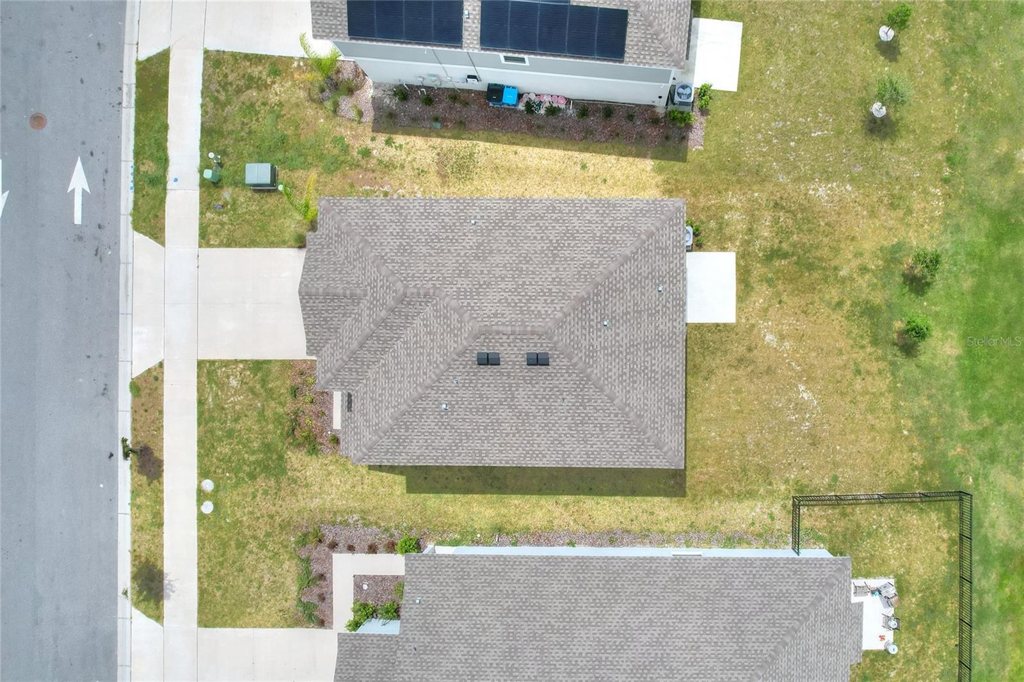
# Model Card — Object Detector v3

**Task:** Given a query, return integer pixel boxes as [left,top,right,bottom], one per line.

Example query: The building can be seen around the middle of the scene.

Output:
[298,198,685,467]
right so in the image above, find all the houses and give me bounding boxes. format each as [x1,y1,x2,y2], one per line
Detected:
[333,545,861,682]
[311,0,691,106]
[298,198,685,467]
